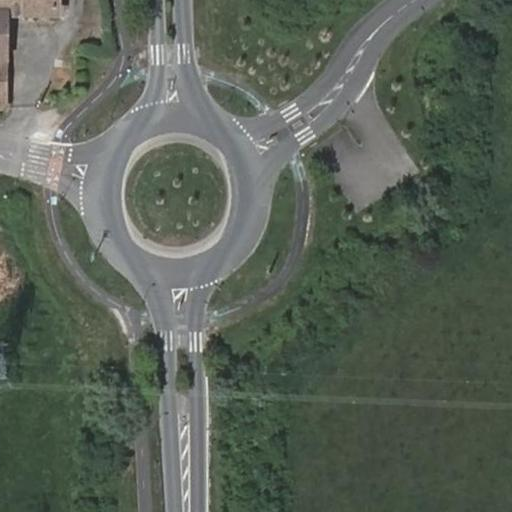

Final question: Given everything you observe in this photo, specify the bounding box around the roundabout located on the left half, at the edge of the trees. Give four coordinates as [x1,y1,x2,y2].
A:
[48,63,311,332]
